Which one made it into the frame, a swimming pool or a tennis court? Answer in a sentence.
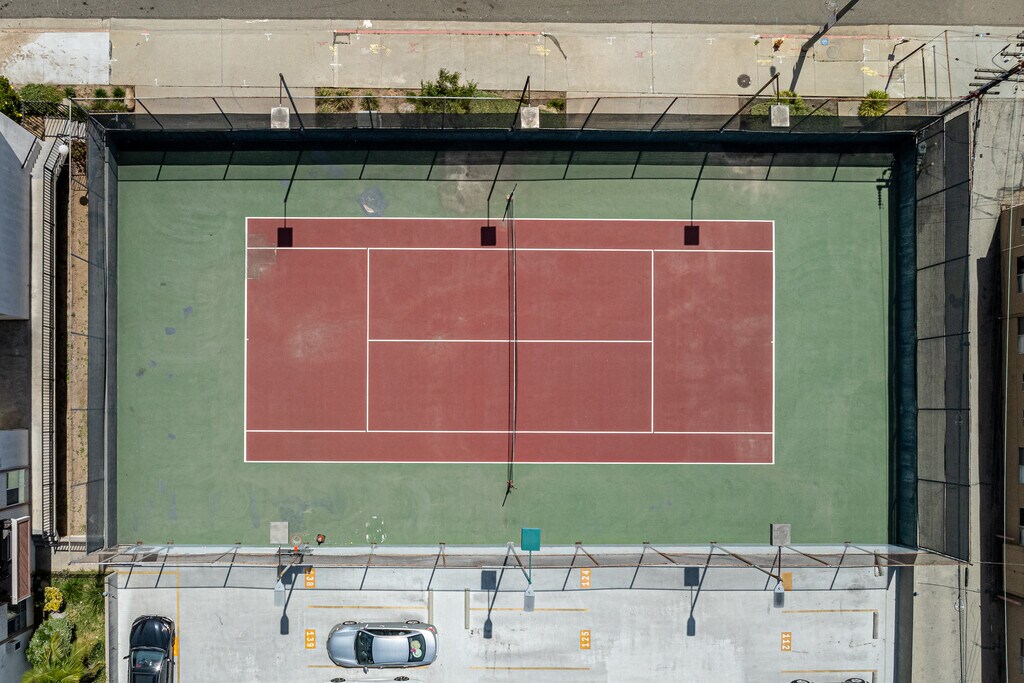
I can see a tennis court in this picture.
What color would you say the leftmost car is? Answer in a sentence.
The color of the leftmost car is black.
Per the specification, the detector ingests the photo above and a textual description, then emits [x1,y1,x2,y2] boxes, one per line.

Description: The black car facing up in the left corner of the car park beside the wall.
[122,615,175,683]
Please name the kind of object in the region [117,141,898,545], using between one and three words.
tennis court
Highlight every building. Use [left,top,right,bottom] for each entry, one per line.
[0,112,53,683]
[995,198,1024,683]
